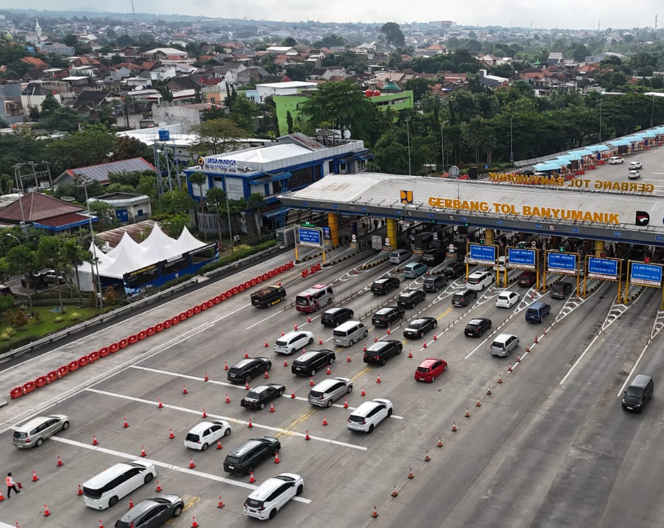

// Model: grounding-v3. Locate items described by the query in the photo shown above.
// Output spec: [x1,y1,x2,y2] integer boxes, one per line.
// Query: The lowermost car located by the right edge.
[622,373,653,412]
